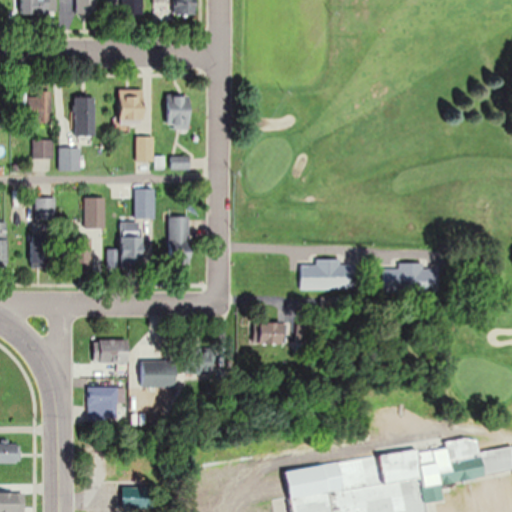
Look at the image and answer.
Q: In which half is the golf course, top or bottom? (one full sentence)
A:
The golf course sits in the top half of the picture.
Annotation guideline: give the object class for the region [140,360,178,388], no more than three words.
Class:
house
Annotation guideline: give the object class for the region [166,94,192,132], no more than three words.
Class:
house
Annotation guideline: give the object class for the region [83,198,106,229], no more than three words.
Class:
building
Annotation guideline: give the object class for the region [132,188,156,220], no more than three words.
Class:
building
